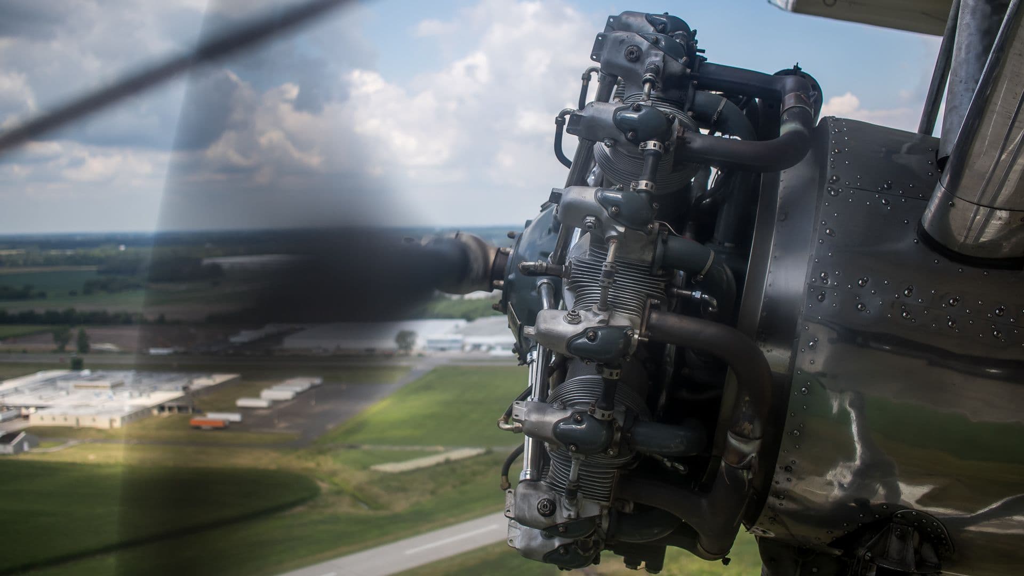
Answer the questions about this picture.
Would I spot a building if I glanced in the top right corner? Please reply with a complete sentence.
No, no building can be made out in the top right corner.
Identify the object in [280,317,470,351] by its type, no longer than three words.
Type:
building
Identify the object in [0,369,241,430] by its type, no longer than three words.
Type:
building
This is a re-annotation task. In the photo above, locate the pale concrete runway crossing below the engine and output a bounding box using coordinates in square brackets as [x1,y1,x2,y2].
[265,512,513,576]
